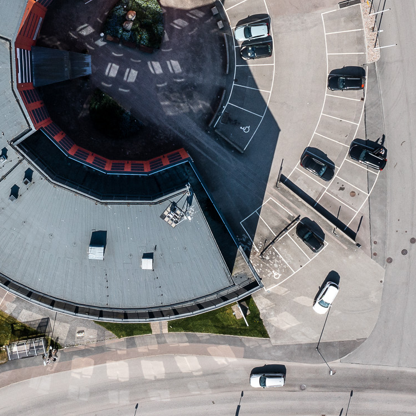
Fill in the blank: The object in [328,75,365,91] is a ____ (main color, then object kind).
black car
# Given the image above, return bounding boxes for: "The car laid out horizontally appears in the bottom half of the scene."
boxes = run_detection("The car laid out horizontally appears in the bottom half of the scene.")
[250,371,284,388]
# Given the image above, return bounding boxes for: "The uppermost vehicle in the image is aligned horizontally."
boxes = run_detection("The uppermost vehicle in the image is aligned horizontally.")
[234,23,271,41]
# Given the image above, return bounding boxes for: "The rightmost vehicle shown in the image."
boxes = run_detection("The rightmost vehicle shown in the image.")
[348,146,387,173]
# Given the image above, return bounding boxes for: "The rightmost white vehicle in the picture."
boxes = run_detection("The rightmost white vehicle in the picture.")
[315,281,338,315]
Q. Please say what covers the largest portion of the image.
paved ground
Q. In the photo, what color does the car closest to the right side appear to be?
black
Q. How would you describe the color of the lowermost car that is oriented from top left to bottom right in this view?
black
